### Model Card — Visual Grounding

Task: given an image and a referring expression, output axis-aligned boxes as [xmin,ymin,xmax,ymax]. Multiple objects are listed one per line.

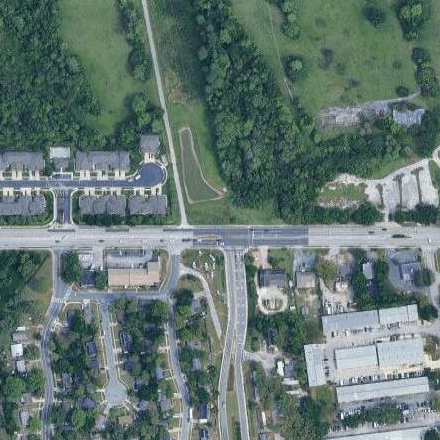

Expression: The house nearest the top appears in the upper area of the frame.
[140,134,160,155]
